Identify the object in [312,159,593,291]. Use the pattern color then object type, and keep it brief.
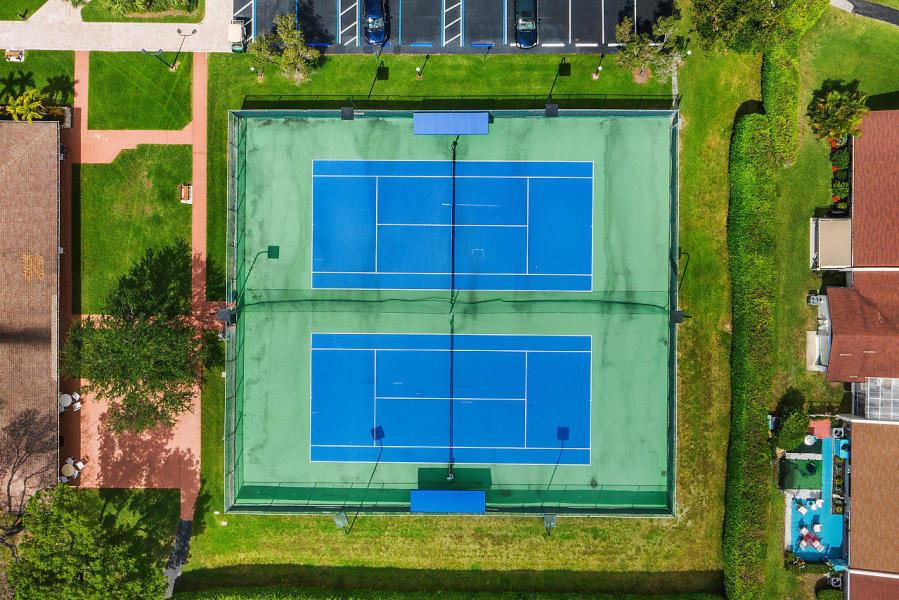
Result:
blue tennis court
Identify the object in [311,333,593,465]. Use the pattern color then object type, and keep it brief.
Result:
blue tennis court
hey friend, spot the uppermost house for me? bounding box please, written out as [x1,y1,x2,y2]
[811,108,899,268]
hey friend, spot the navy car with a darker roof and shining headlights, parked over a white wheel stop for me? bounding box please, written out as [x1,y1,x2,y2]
[514,0,541,48]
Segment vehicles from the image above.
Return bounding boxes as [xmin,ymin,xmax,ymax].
[361,0,388,45]
[514,0,541,48]
[225,17,244,49]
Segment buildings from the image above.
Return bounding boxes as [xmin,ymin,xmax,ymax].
[845,421,899,571]
[819,271,899,381]
[811,108,899,268]
[0,119,61,512]
[843,570,899,600]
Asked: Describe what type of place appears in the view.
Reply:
sports ground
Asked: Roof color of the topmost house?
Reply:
red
